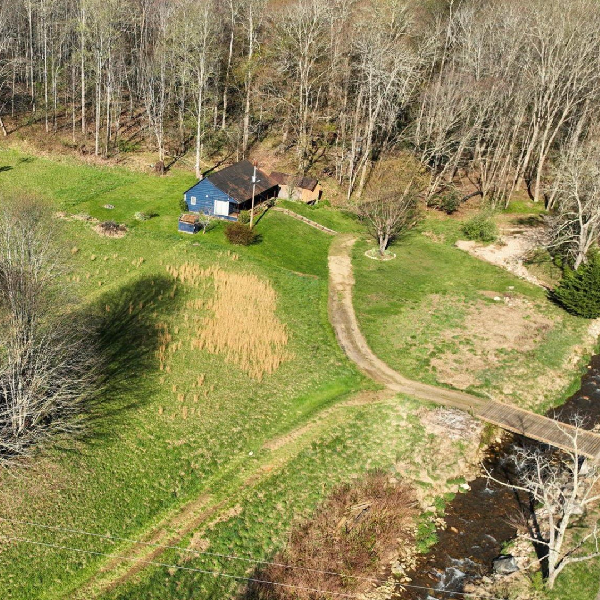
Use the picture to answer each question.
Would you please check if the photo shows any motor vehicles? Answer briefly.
No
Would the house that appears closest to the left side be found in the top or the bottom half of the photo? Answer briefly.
top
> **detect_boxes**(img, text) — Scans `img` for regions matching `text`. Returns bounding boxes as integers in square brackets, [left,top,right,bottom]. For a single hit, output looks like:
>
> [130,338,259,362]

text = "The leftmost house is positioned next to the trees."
[183,159,275,222]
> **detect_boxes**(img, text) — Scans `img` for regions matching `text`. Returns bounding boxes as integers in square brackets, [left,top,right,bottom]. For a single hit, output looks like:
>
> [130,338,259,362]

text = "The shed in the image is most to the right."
[277,172,329,205]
